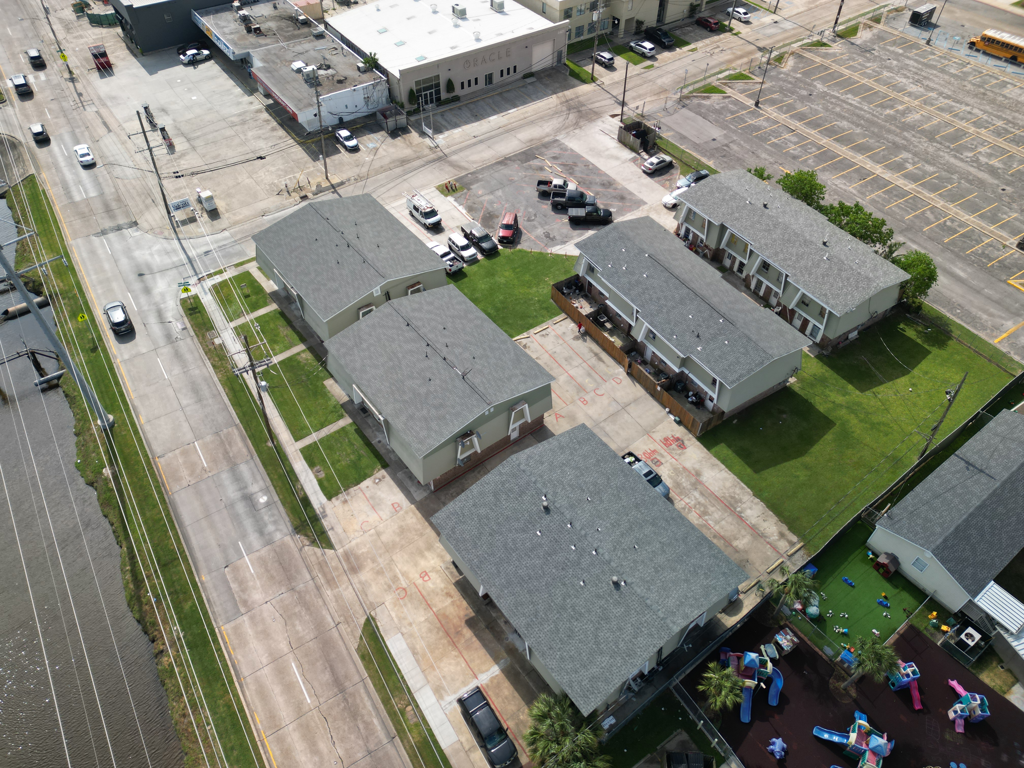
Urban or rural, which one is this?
urban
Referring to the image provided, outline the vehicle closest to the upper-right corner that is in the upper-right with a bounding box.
[969,33,1024,69]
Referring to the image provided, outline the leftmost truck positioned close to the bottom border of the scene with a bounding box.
[454,679,514,768]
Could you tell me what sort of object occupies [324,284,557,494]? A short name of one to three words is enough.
house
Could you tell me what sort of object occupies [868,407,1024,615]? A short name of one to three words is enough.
house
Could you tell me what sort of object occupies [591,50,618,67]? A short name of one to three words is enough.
car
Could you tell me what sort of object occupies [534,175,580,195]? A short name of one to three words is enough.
vehicle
